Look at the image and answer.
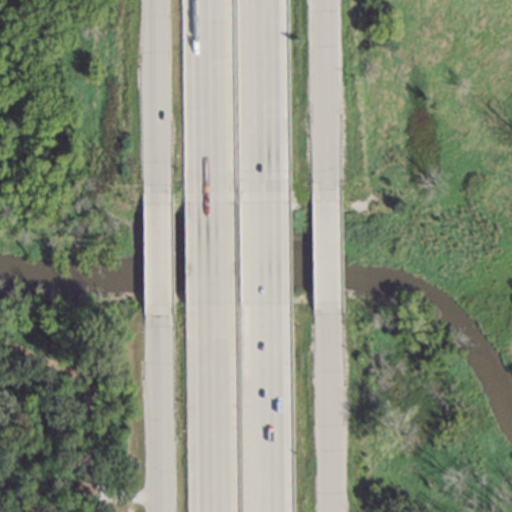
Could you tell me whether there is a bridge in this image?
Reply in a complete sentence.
Yes, you can see a bridge in this photo.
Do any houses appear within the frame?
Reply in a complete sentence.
No, I can see no house in this picture.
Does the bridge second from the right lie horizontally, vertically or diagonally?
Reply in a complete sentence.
The bridge second from the right runs vertically in the image.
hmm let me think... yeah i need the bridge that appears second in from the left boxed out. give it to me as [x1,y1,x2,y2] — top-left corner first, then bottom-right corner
[184,192,236,306]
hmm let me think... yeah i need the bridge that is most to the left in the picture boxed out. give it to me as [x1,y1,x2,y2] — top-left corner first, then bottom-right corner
[144,190,176,317]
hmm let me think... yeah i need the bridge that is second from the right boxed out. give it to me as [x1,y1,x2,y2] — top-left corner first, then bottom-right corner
[240,192,292,306]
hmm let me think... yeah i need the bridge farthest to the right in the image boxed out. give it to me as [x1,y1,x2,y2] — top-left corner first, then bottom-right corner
[312,191,344,311]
